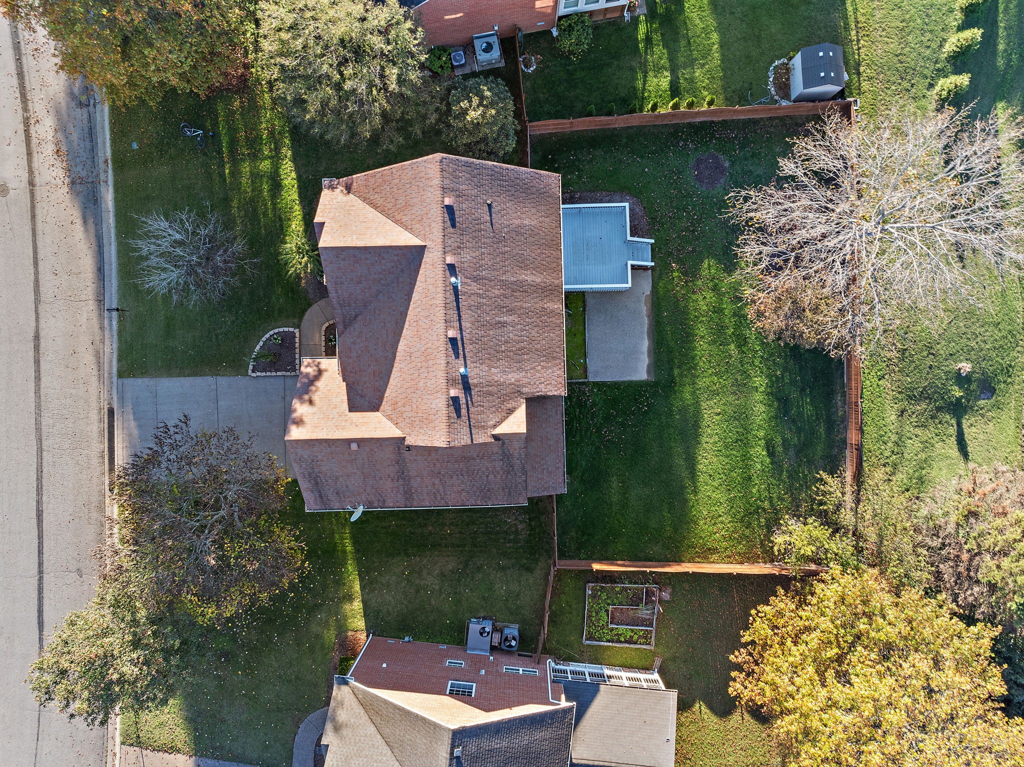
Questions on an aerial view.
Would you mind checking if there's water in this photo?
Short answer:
No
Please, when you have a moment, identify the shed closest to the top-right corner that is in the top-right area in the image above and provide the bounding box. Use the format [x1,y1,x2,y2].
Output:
[791,42,848,100]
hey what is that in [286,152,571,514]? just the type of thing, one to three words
house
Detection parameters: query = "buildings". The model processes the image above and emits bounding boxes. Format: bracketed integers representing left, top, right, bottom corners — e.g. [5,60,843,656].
[286,152,571,514]
[791,42,848,100]
[403,0,634,51]
[319,630,677,767]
